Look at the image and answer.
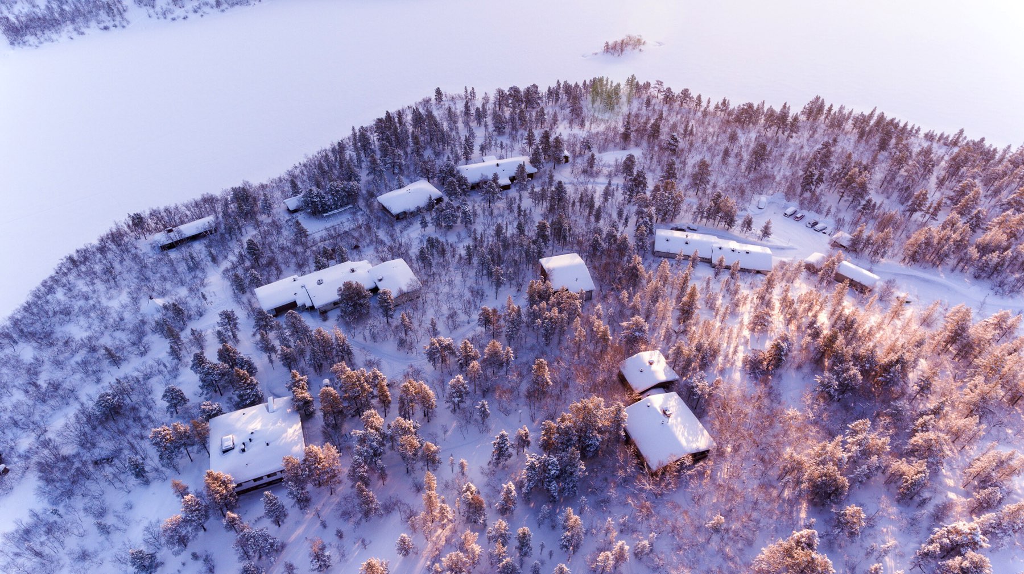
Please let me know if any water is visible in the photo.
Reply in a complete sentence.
Yes, there's water in this view.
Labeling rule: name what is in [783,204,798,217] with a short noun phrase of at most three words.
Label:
vehicle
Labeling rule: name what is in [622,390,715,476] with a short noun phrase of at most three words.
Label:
house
